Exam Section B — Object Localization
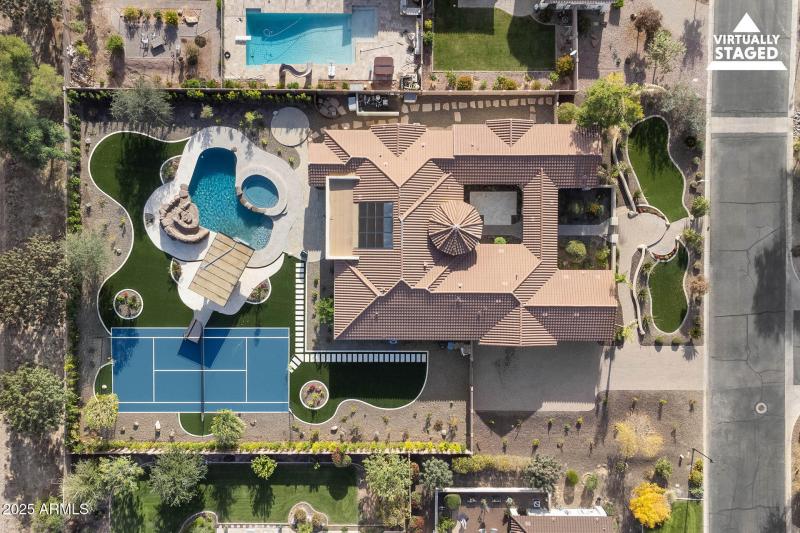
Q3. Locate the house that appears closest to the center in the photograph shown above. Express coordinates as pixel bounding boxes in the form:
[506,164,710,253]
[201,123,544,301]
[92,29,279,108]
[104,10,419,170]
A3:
[309,119,619,346]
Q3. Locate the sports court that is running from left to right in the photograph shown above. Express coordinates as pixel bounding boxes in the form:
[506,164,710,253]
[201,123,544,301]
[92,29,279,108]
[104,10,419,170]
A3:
[112,329,289,412]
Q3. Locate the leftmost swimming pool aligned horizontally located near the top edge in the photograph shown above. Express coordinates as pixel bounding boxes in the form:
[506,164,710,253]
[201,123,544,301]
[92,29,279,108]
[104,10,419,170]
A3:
[245,5,379,66]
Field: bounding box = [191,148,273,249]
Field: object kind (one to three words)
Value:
swimming pool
